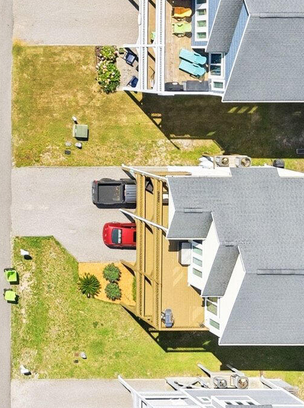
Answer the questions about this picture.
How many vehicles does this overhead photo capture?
two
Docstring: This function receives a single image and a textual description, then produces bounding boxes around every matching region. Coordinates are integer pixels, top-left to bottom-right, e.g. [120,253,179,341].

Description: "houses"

[116,372,304,408]
[122,0,304,103]
[119,158,304,347]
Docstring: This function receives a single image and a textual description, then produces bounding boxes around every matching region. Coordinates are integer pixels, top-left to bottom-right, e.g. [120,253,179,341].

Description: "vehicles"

[87,175,134,207]
[95,219,134,247]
